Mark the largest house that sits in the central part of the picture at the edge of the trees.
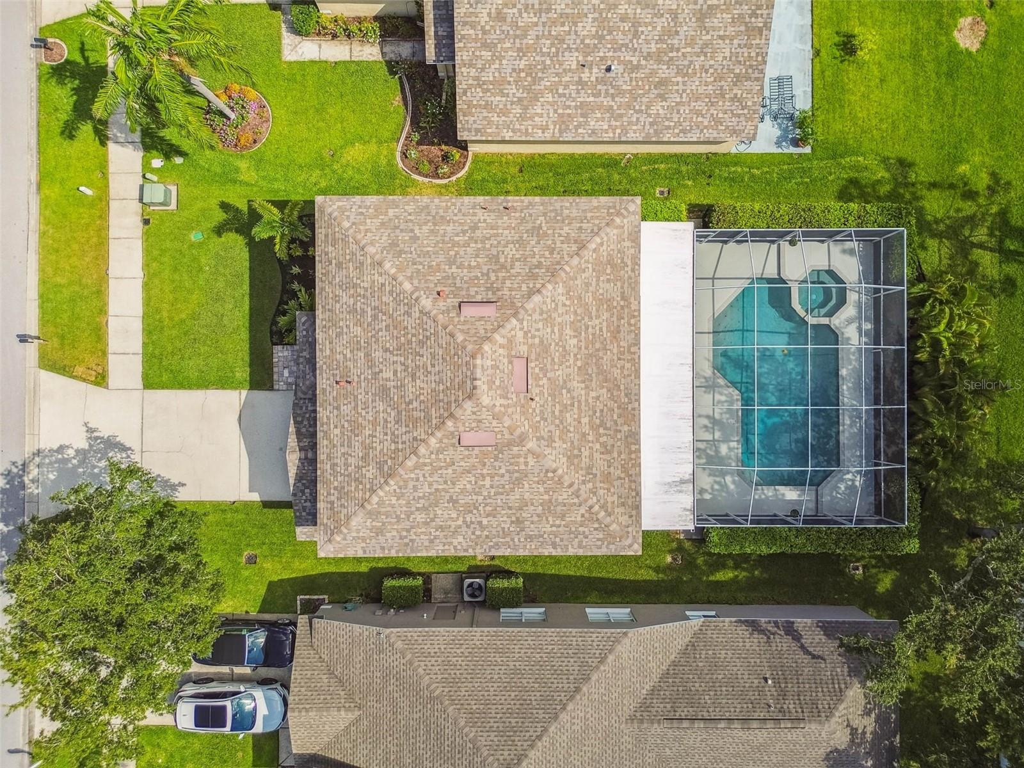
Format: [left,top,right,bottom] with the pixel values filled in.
[286,196,697,556]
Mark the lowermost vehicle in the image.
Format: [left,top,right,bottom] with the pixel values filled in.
[174,675,289,735]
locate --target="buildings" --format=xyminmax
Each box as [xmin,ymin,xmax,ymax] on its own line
[307,0,774,153]
[286,196,697,556]
[289,600,899,768]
